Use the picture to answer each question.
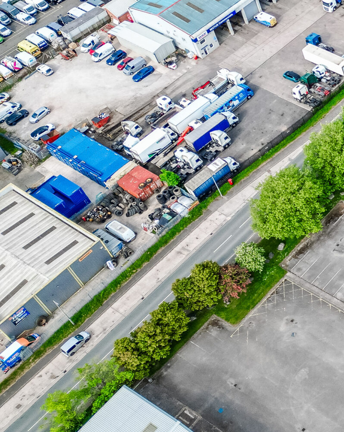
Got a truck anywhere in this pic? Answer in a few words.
Yes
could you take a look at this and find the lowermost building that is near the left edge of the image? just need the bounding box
[0,181,112,343]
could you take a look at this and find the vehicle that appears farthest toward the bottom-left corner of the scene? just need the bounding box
[0,337,49,379]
